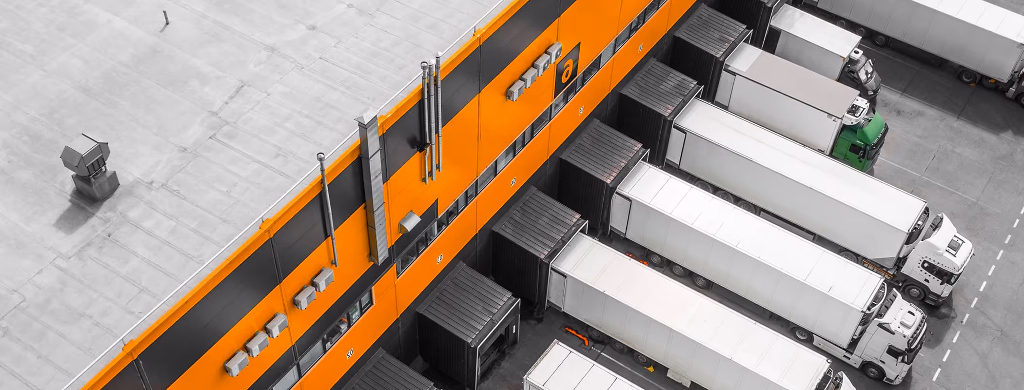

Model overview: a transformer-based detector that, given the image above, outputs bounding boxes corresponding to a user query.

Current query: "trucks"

[523,339,647,390]
[717,43,894,175]
[612,162,931,382]
[803,0,1024,105]
[667,98,974,303]
[550,232,861,390]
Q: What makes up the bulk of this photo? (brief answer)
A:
buildings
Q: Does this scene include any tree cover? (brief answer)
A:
No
